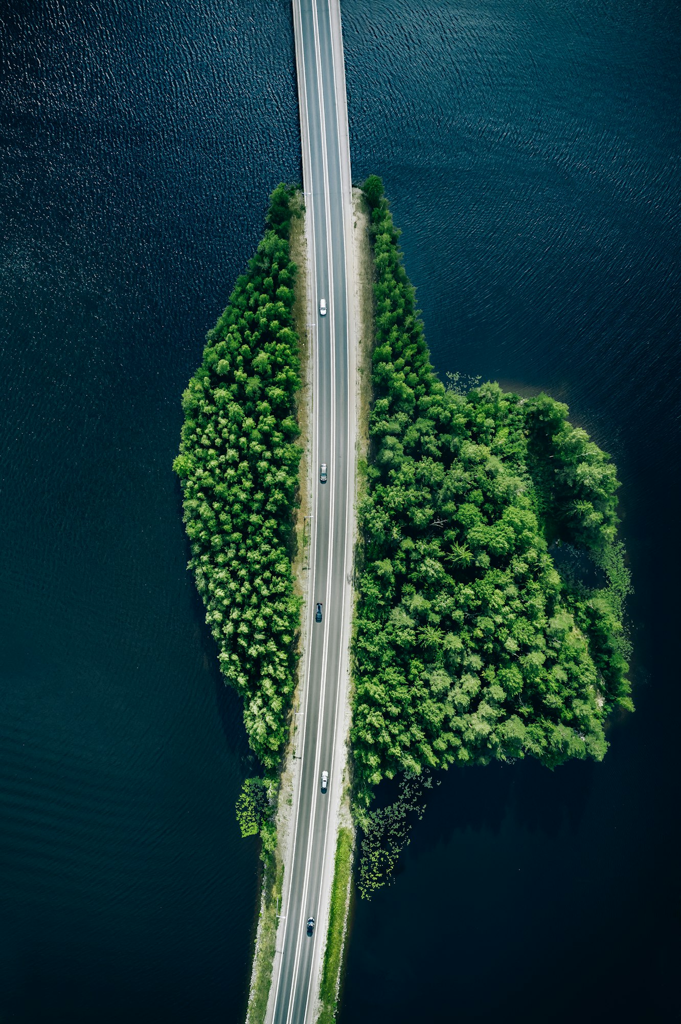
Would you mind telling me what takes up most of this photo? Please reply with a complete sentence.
For the most part, this view shows water.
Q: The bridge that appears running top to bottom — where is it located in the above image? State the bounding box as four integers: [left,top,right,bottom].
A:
[292,0,354,223]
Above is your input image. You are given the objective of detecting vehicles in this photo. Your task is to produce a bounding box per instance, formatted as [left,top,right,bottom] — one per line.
[321,770,329,787]
[319,465,327,481]
[319,299,327,315]
[315,603,323,620]
[307,916,314,933]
